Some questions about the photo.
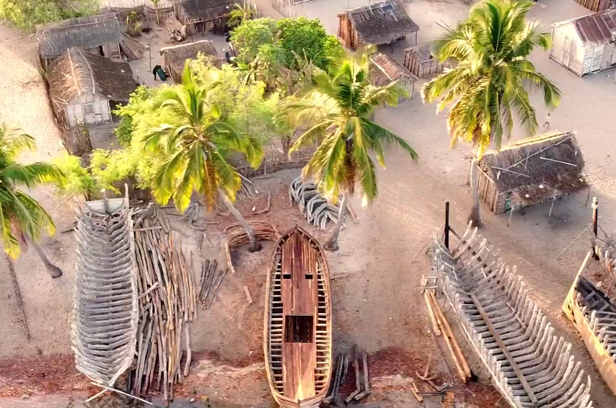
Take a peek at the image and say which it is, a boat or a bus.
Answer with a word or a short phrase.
boat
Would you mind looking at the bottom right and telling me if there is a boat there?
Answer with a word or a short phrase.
Yes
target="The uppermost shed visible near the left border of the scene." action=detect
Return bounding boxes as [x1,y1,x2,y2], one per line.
[18,10,128,62]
